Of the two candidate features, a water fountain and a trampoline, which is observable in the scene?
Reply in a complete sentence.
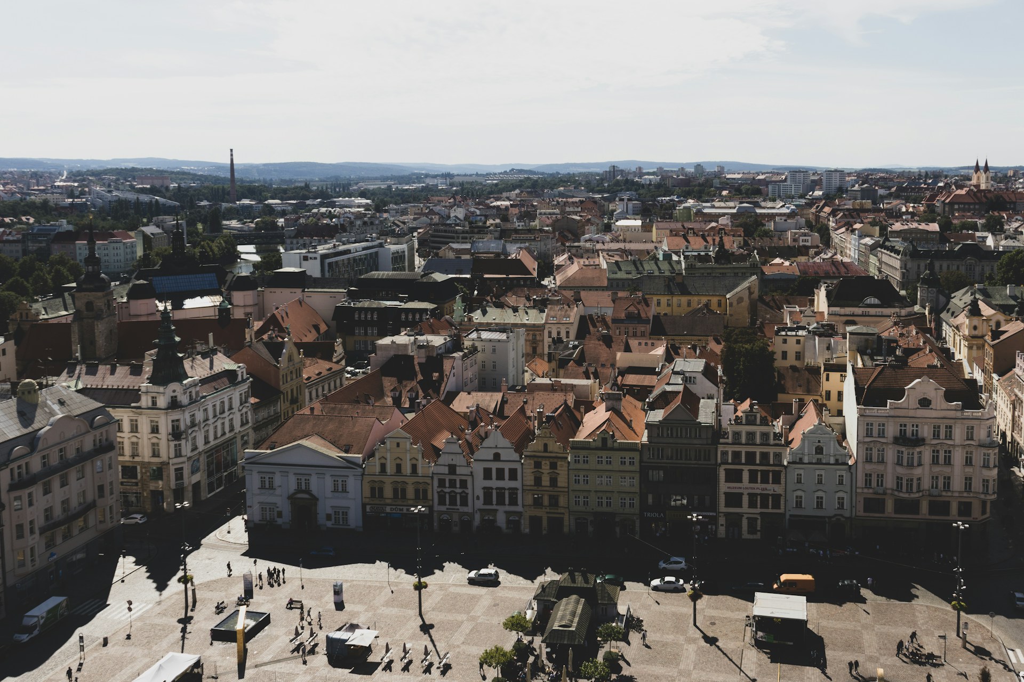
The image shows a water fountain.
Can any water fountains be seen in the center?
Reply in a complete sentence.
No, I can find no water fountain in the center.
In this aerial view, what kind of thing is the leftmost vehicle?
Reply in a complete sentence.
What you see as the leftmost vehicle is a truck.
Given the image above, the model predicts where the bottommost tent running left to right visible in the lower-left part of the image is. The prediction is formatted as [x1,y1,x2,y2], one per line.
[129,649,202,682]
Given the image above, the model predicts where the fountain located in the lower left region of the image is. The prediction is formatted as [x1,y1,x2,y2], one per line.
[211,608,275,665]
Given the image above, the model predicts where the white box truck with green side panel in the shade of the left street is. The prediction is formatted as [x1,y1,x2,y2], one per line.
[16,589,77,640]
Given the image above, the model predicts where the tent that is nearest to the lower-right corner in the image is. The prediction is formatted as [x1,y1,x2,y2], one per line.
[741,593,810,648]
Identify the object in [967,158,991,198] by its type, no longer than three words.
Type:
building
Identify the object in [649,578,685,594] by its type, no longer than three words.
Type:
car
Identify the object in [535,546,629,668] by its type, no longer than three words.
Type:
building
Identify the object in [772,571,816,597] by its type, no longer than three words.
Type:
vehicle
